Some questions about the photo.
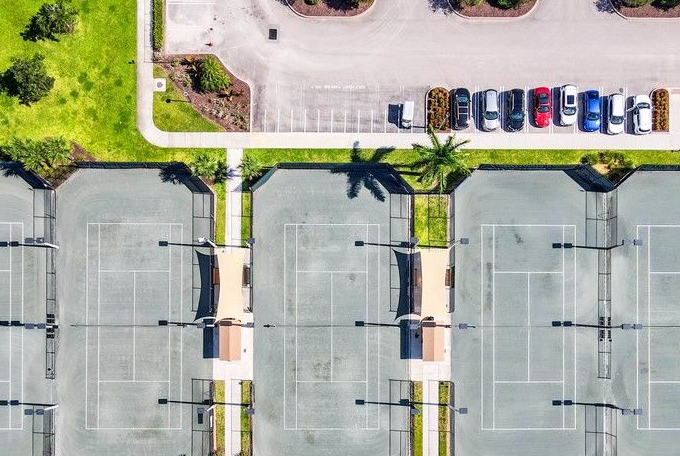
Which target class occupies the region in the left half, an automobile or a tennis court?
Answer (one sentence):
Looking in the left half, you will find a tennis court.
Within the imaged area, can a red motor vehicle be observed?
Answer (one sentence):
Yes, a red motor vehicle appears in the view.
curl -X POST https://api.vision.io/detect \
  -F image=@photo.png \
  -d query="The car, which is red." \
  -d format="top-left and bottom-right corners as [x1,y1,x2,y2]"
[534,87,554,126]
